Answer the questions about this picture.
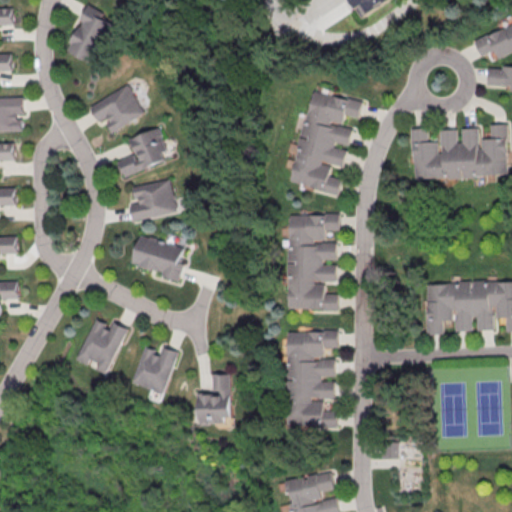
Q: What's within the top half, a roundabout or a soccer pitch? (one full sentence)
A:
The one visible within the top half is a roundabout.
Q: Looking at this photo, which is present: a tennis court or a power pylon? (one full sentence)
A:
The one in the frame is a tennis court.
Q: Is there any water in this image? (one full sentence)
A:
No, water can't be seen anywhere here.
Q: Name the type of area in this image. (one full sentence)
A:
It's a residential area.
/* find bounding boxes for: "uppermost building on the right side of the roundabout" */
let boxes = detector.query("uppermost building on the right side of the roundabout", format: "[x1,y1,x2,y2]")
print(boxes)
[474,20,512,60]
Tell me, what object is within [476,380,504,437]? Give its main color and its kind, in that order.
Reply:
blue tennis court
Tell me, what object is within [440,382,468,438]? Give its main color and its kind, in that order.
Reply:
blue tennis court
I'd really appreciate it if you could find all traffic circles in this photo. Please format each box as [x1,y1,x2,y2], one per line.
[409,47,476,114]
